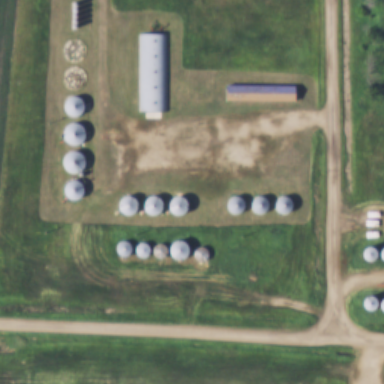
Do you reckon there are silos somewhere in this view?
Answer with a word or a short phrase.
Yes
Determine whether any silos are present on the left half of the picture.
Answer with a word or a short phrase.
Yes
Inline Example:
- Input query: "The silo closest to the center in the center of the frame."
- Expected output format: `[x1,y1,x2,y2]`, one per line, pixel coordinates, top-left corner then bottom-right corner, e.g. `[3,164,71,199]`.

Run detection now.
[170,192,190,217]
